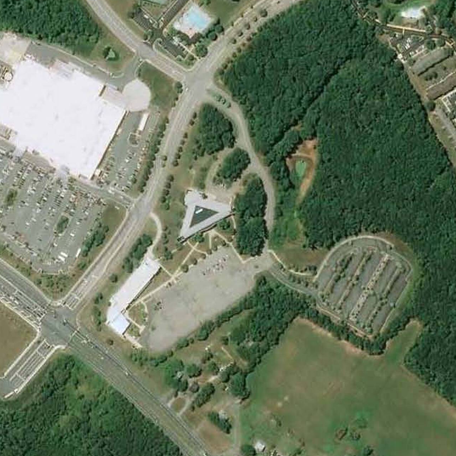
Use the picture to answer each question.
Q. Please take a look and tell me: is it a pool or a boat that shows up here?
pool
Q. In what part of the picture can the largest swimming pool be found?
top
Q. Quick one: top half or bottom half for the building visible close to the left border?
top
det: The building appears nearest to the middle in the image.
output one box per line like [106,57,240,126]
[178,189,236,244]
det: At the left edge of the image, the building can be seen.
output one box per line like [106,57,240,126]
[0,59,127,181]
